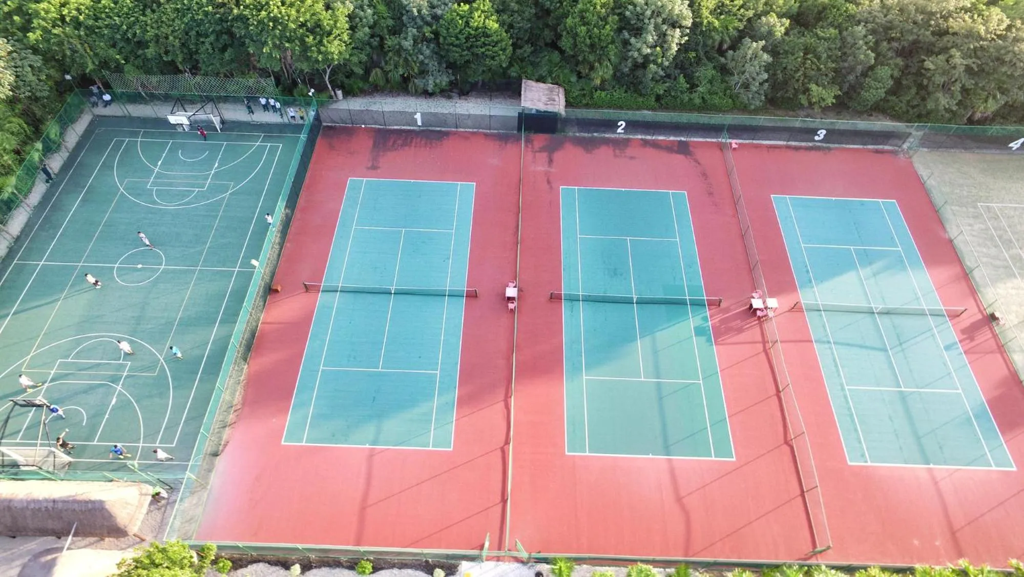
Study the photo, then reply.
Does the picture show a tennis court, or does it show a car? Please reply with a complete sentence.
Of the two, only a tennis court appears.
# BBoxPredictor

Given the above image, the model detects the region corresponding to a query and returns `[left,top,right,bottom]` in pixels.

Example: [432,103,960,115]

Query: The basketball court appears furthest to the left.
[0,114,310,488]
